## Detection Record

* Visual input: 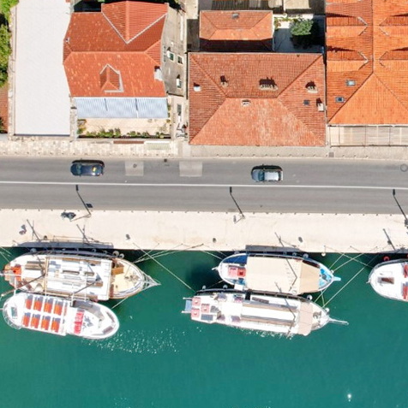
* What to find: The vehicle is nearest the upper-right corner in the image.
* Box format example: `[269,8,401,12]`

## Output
[252,166,282,182]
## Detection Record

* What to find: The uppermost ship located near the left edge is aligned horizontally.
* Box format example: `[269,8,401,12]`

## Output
[0,247,161,300]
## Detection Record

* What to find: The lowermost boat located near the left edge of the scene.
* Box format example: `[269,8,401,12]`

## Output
[0,291,124,337]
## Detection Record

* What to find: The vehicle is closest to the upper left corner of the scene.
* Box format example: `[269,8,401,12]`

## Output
[72,161,105,177]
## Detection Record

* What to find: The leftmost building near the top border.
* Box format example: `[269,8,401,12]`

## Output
[15,0,84,136]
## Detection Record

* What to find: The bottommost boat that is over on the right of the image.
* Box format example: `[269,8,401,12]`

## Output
[182,284,349,340]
